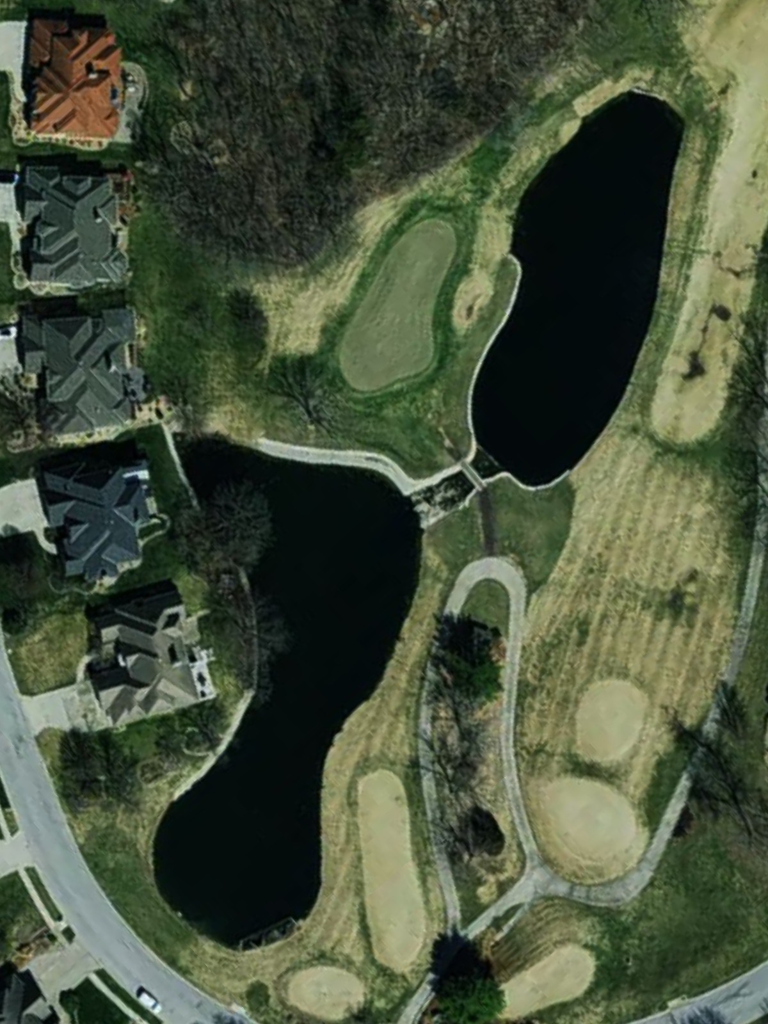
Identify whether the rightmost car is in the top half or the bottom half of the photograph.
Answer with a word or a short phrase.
bottom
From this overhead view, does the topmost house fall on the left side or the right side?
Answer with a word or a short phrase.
left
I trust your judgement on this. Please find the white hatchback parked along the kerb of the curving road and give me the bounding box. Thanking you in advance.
[138,990,159,1010]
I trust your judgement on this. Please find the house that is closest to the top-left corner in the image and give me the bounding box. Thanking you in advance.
[29,17,121,136]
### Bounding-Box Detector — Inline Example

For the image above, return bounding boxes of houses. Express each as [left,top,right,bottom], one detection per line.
[36,456,152,584]
[24,165,127,285]
[29,17,121,136]
[0,962,59,1024]
[21,308,135,433]
[88,588,204,724]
